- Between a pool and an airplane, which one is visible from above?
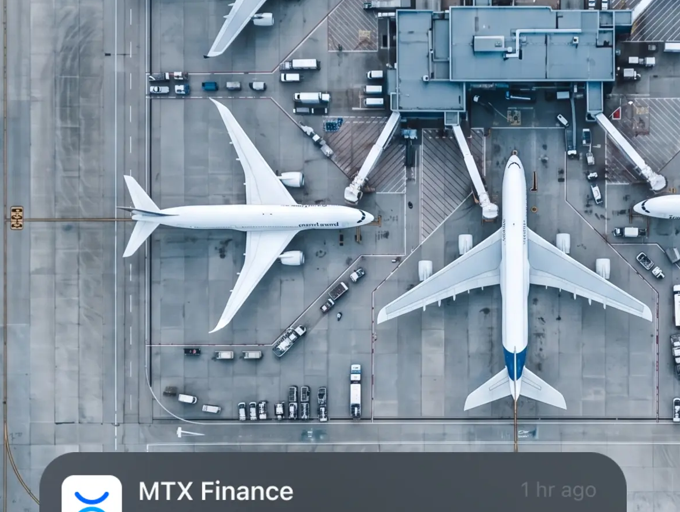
airplane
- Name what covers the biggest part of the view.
paved ground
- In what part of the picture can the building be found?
top right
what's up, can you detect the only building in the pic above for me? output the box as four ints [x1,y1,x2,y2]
[385,0,633,130]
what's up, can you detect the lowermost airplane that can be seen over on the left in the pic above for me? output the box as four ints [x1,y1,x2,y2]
[120,100,373,333]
